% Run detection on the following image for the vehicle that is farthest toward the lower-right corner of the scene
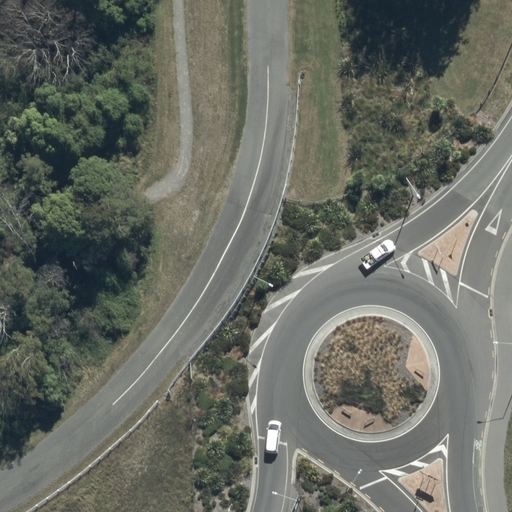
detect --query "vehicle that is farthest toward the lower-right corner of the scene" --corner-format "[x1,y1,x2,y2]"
[266,420,282,456]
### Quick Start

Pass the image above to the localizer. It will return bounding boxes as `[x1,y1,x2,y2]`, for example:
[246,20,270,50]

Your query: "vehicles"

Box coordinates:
[266,420,282,456]
[360,240,396,269]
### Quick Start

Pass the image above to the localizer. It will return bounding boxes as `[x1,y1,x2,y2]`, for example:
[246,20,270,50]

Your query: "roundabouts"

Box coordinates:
[248,106,512,512]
